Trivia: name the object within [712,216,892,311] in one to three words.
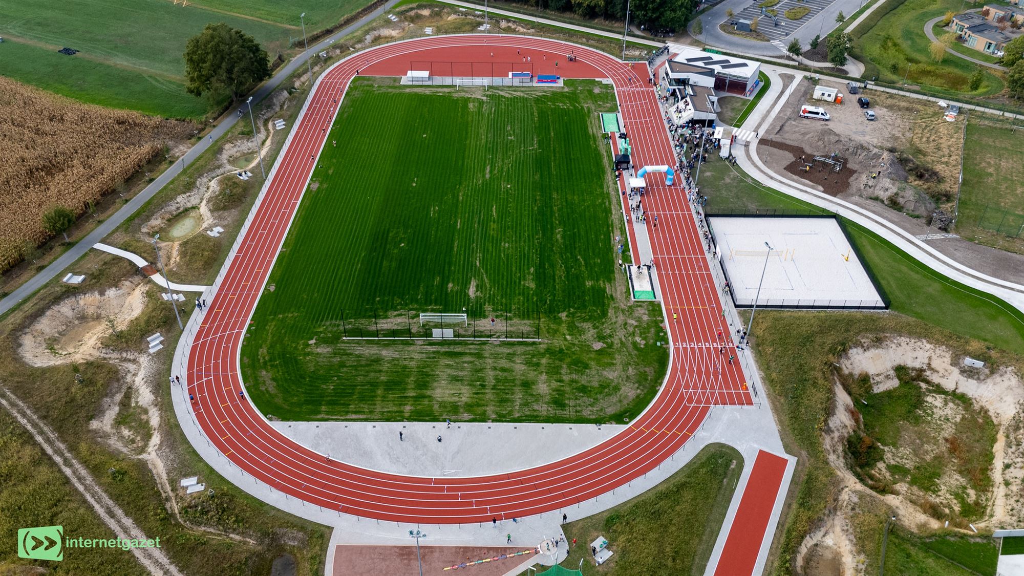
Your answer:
sports court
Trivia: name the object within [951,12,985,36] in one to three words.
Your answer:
house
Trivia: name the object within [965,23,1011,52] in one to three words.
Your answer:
house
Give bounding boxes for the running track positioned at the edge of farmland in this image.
[187,36,755,522]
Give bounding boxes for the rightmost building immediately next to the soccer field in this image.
[665,48,760,127]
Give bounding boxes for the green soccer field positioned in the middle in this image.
[241,78,668,425]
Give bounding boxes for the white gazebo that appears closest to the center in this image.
[628,175,647,192]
